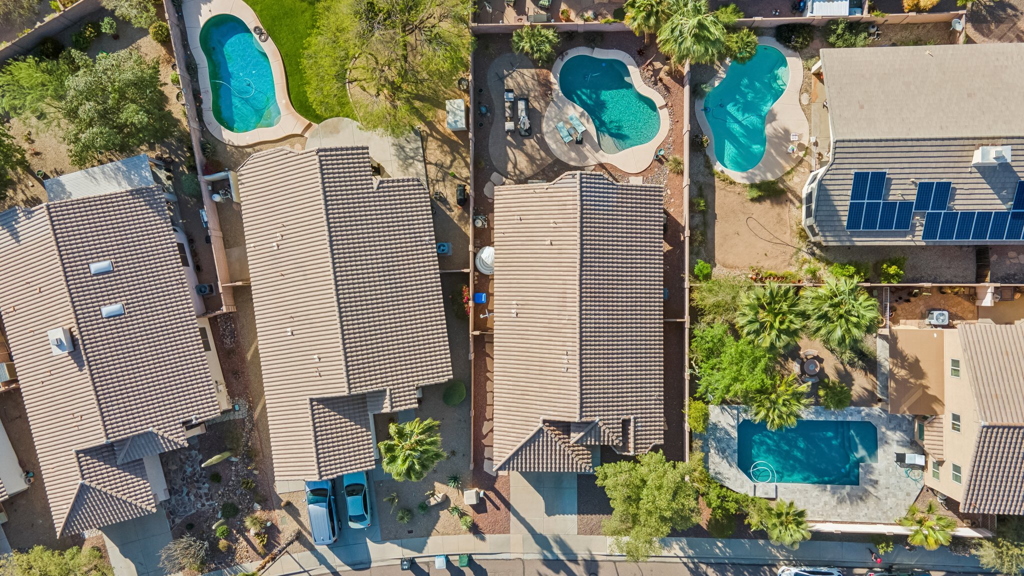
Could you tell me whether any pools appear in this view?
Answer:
Yes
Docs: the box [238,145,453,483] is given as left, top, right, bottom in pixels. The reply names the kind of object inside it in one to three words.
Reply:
house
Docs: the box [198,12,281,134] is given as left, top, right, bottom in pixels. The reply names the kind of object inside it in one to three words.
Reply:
swimming pool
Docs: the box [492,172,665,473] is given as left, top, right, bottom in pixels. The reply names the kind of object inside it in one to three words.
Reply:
house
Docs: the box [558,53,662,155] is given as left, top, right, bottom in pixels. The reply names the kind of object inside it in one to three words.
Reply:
swimming pool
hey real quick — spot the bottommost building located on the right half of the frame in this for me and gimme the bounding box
[885,324,1024,515]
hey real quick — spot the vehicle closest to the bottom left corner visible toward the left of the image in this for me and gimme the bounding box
[310,478,343,543]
